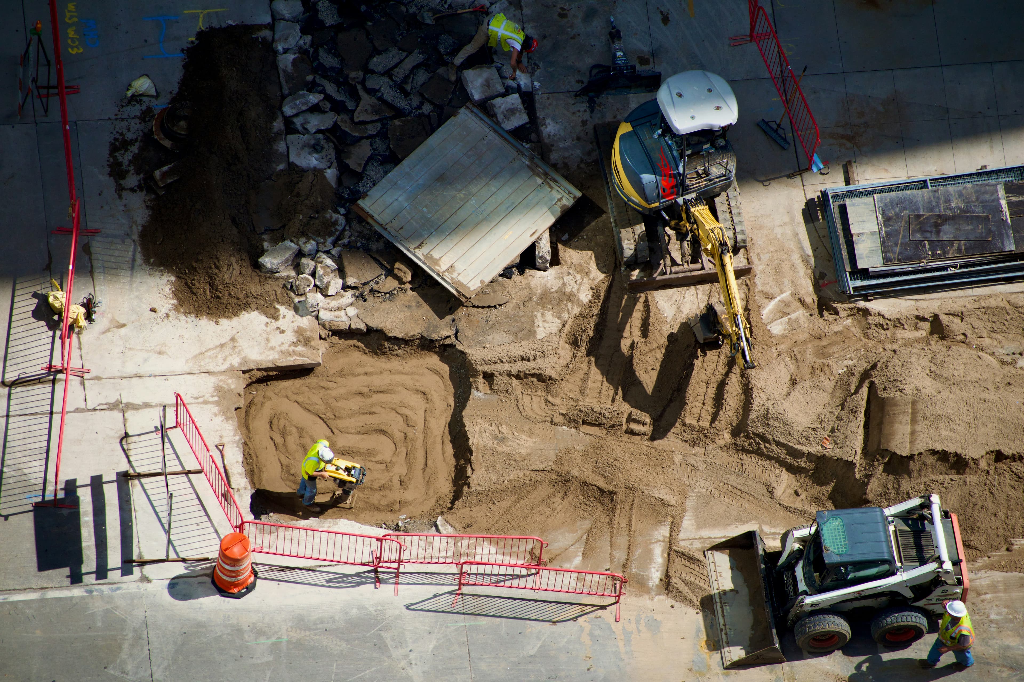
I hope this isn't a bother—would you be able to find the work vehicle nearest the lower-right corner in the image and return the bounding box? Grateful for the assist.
[706,500,974,670]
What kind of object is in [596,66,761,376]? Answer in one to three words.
work vehicle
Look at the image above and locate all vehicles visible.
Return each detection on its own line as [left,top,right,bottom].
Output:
[596,66,761,376]
[706,500,974,670]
